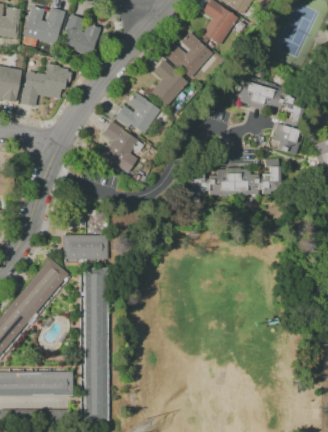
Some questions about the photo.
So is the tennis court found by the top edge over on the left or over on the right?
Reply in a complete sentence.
The tennis court found by the top edge is on the right side of the image.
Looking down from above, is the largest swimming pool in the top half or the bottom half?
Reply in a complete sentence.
Seen from above, the largest swimming pool lies in the bottom half of the view.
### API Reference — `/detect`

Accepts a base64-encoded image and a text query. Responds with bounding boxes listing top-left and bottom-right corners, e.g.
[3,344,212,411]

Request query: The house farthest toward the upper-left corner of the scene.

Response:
[0,0,20,38]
